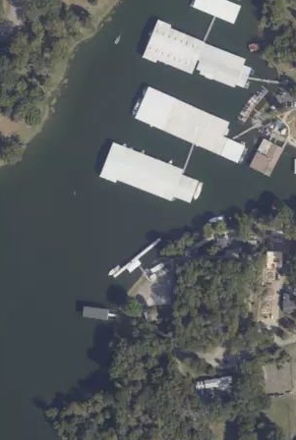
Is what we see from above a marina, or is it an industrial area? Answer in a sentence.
The area seen from above is a marina.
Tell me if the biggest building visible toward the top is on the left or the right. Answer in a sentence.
It is on the right.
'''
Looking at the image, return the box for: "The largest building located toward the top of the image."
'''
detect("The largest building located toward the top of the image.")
[250,138,283,176]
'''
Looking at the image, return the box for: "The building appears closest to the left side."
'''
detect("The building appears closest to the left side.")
[82,306,108,320]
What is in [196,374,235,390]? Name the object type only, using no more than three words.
house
